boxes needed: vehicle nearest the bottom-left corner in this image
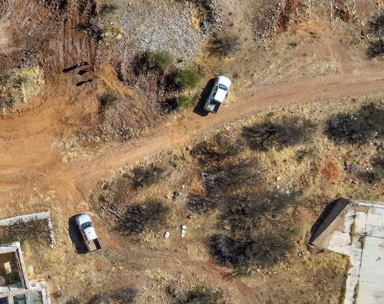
[74,211,103,254]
